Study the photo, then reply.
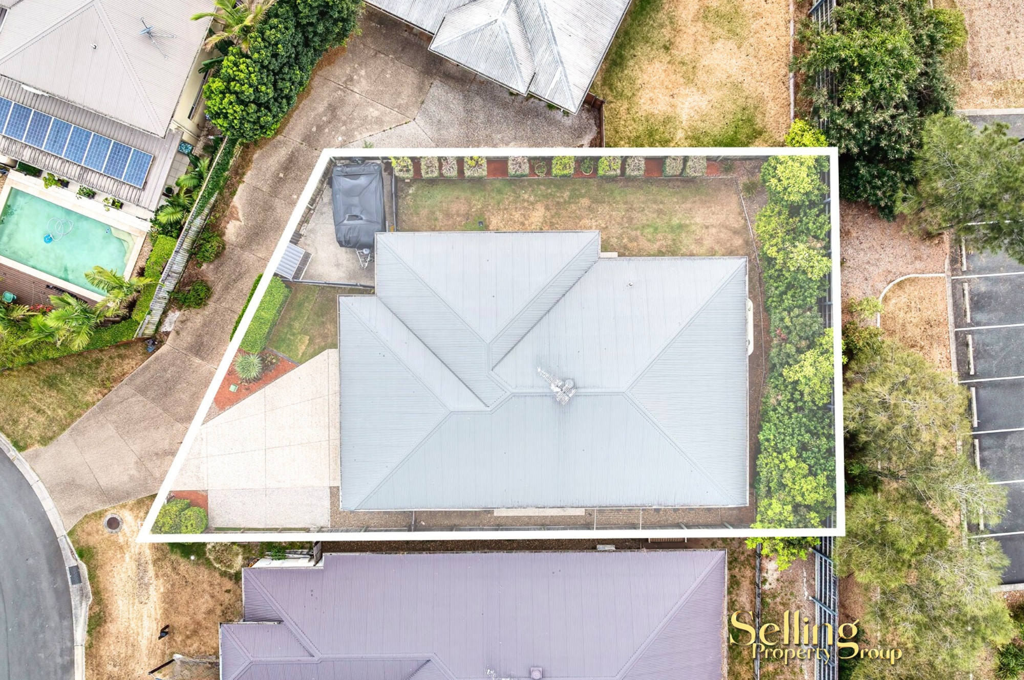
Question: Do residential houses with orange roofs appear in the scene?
No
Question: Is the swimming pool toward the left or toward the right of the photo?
left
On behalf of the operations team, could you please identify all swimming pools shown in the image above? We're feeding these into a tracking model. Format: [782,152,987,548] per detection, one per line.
[0,172,147,306]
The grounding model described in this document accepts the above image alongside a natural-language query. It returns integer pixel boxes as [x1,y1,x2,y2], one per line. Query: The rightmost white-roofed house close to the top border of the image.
[351,0,631,114]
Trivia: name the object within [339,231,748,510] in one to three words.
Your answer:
house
